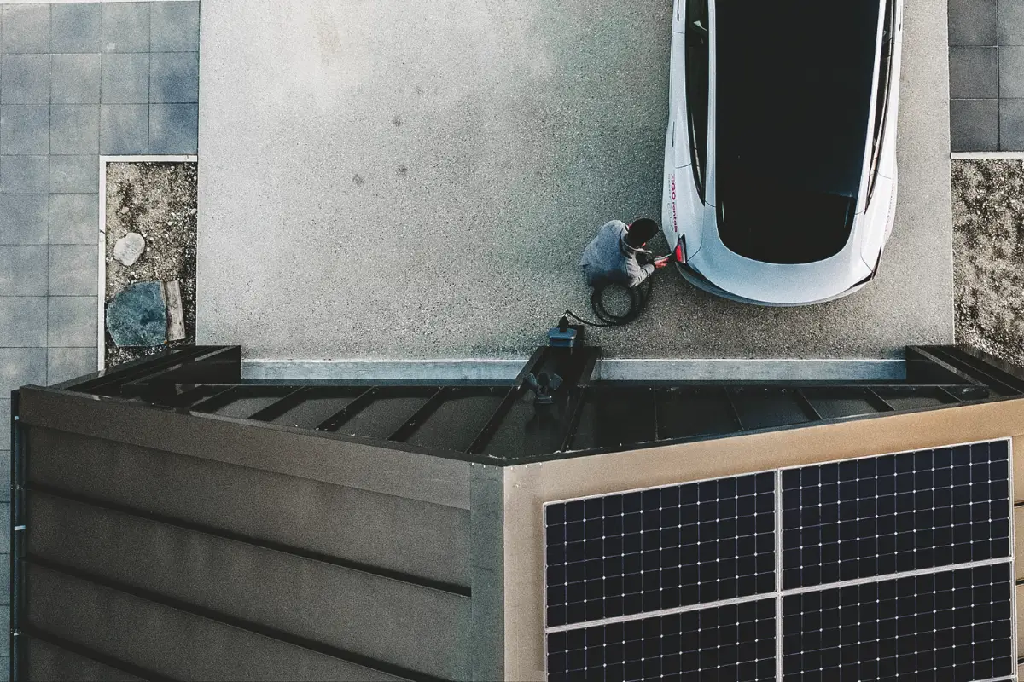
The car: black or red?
black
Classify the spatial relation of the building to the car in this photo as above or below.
below it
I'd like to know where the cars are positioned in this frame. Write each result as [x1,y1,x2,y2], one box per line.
[663,0,903,307]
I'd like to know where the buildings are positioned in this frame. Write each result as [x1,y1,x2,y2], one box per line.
[4,348,1024,682]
